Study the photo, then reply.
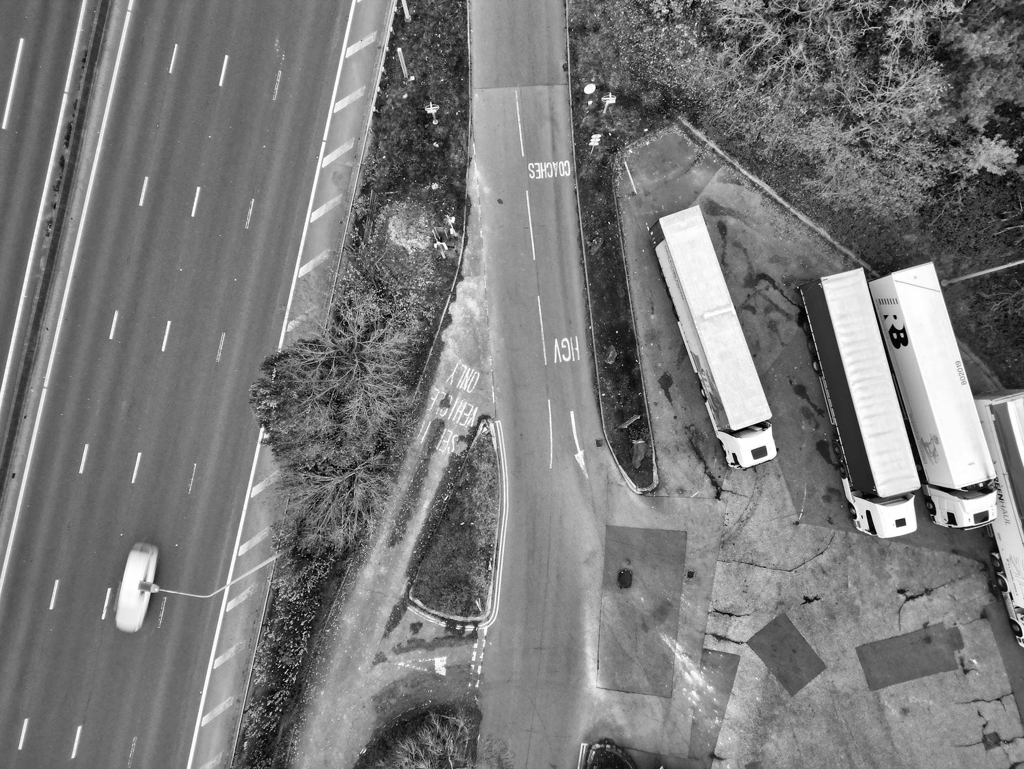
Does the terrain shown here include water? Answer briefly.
No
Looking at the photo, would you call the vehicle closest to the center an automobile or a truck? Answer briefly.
truck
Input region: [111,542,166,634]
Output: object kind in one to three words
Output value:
van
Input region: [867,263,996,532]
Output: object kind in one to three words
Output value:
truck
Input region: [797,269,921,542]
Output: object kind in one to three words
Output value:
truck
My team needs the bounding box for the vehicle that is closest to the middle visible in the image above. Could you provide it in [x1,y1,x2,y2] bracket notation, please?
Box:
[649,206,781,473]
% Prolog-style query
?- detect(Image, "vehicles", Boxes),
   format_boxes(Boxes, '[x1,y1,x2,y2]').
[867,263,996,532]
[797,269,921,542]
[649,206,781,473]
[974,393,1024,652]
[111,542,166,634]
